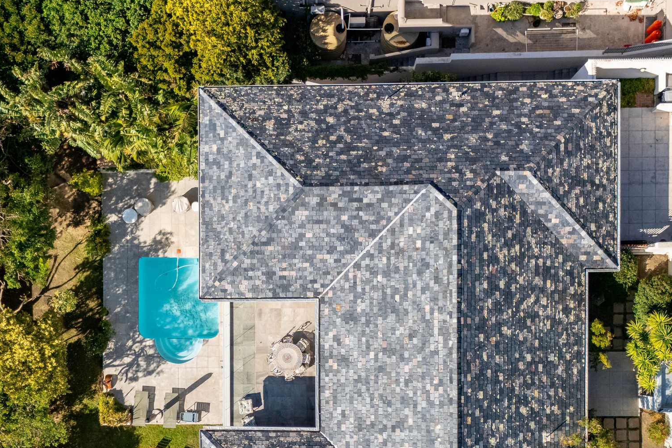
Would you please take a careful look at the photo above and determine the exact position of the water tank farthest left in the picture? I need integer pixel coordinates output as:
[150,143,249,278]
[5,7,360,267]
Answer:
[310,13,345,59]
